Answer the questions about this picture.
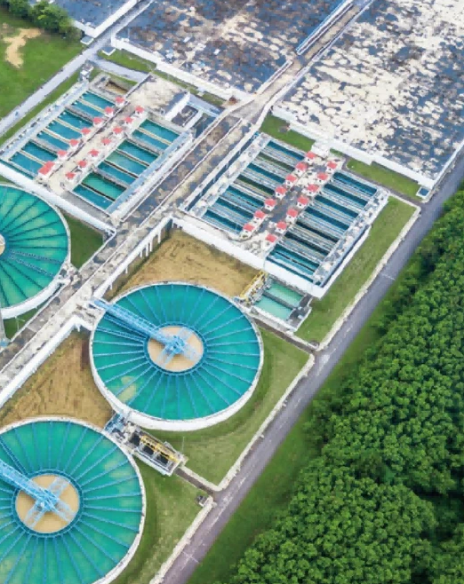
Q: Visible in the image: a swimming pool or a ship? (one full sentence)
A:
The image shows a swimming pool.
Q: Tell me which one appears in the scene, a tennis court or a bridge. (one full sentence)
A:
Looking from above, you can make out a bridge.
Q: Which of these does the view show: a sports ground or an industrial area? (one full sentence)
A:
This looks like an industrial area.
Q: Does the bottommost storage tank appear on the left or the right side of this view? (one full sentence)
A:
It is on the left.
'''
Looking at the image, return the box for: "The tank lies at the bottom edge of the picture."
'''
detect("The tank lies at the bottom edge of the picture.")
[0,415,147,584]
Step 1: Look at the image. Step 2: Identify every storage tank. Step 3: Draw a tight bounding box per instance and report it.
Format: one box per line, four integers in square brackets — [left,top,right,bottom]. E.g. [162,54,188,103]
[0,180,72,319]
[0,415,147,584]
[88,277,265,431]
